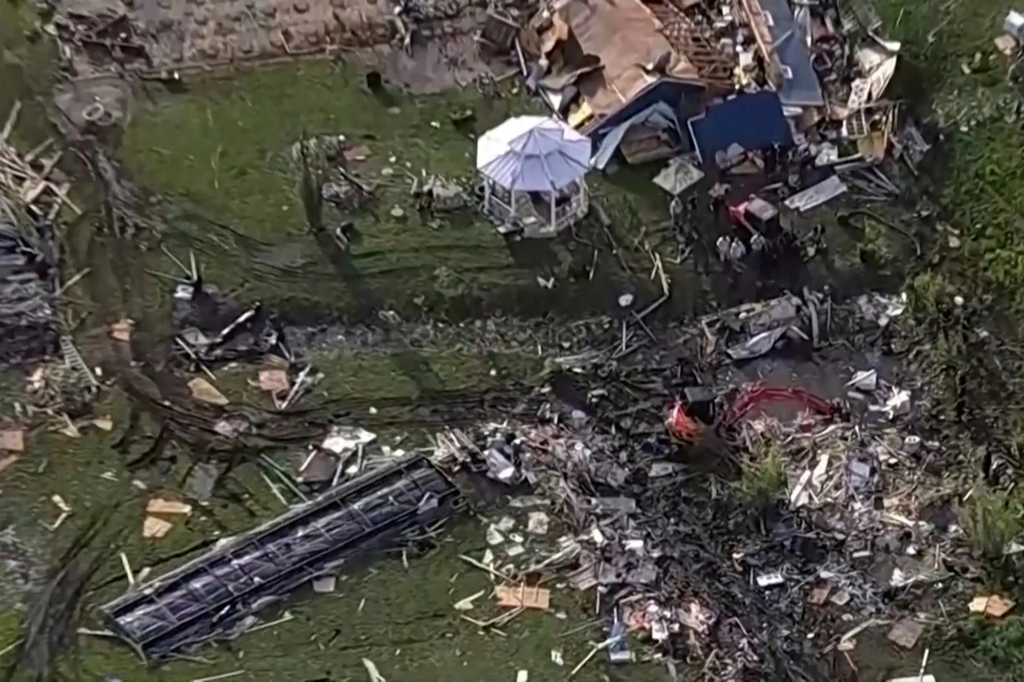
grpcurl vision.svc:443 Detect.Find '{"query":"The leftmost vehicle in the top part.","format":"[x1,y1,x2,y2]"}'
[719,199,786,251]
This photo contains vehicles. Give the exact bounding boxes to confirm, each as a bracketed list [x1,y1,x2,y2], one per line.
[666,386,858,461]
[719,199,786,251]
